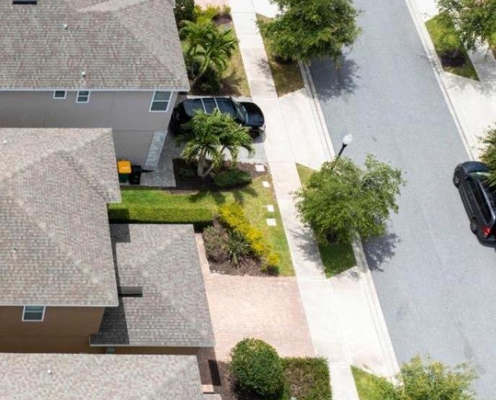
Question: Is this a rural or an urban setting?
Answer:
urban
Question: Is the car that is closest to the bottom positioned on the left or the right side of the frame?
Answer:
right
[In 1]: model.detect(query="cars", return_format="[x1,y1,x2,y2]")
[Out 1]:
[451,162,496,240]
[168,103,258,146]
